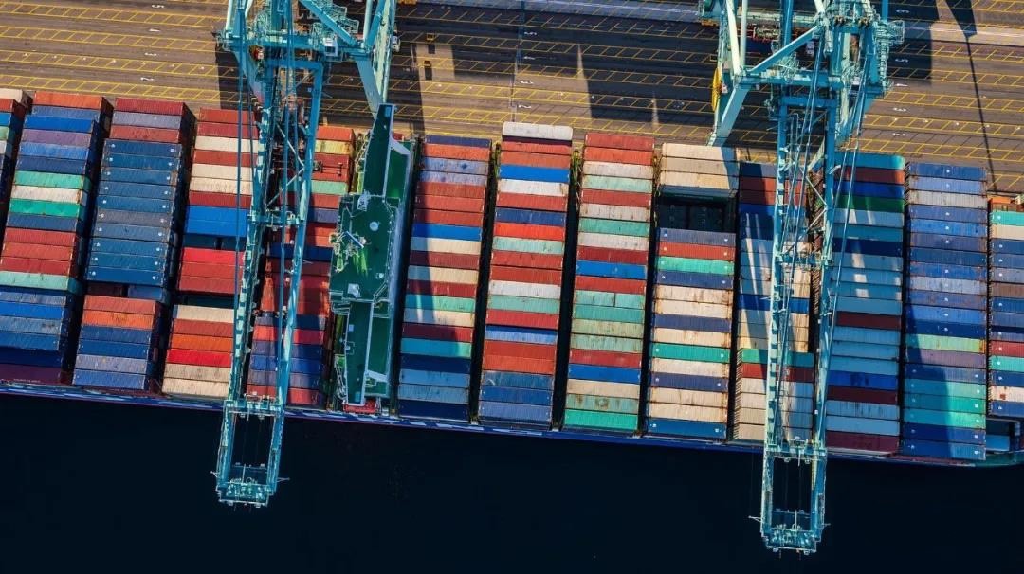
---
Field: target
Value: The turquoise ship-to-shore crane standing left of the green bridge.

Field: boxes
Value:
[204,0,406,509]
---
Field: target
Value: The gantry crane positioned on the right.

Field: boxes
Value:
[694,0,898,557]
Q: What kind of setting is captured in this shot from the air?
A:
port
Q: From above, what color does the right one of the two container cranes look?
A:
blue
